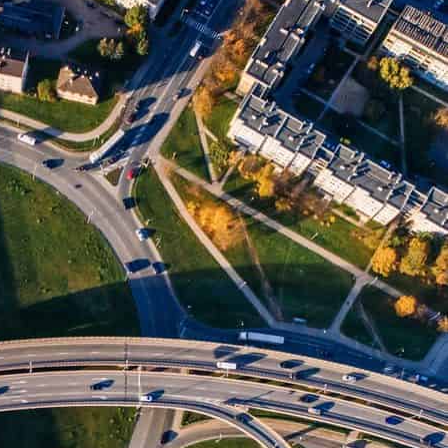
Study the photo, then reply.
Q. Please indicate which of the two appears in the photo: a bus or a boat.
bus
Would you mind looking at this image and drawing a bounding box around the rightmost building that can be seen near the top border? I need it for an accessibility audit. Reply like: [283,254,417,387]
[366,6,448,82]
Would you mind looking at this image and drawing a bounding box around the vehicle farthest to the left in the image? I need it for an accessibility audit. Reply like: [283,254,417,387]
[18,134,35,146]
